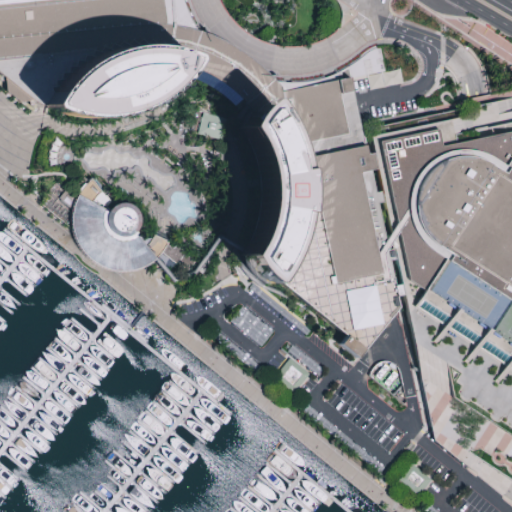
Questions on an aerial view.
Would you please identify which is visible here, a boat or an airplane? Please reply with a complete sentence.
The image shows a boat.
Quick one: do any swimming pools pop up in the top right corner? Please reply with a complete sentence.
No, no swimming pool appears in the top right corner.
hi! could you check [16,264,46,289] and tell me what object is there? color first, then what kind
white boat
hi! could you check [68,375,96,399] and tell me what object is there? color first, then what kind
white boat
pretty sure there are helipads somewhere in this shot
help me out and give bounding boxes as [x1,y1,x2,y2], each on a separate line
[290,168,324,211]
